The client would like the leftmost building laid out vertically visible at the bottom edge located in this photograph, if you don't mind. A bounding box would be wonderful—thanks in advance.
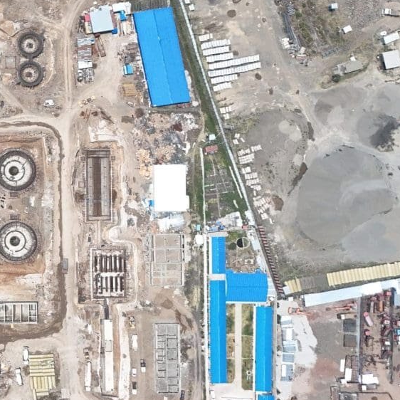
[206,280,226,383]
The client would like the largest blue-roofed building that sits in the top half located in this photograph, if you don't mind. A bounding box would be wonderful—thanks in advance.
[129,8,190,108]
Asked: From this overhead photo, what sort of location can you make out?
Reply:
industrial area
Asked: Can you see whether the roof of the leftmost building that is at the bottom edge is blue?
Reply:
Yes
